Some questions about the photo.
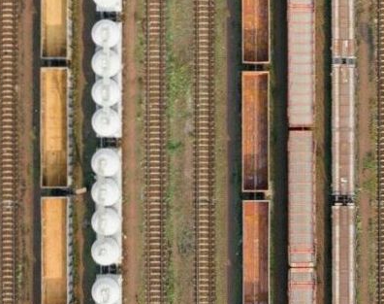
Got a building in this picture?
No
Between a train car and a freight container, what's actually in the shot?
train car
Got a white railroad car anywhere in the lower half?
Yes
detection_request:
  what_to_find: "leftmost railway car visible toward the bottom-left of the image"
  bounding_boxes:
[41,193,73,304]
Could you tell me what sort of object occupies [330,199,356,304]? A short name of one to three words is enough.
rail car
